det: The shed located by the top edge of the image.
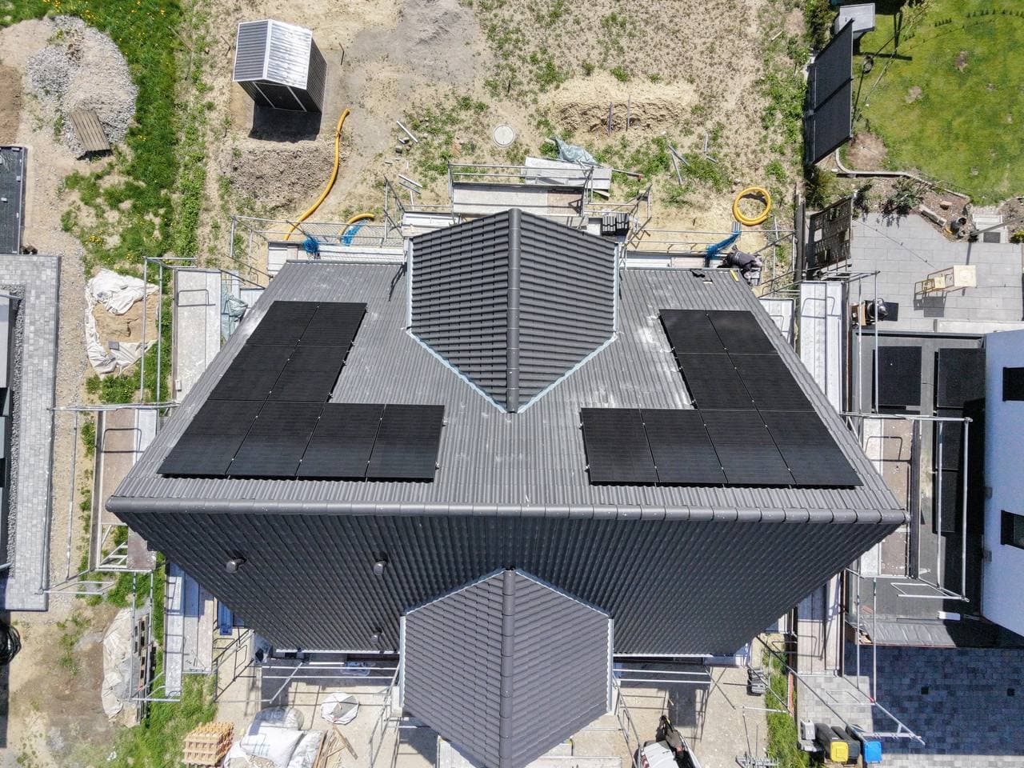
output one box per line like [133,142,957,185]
[233,18,326,110]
